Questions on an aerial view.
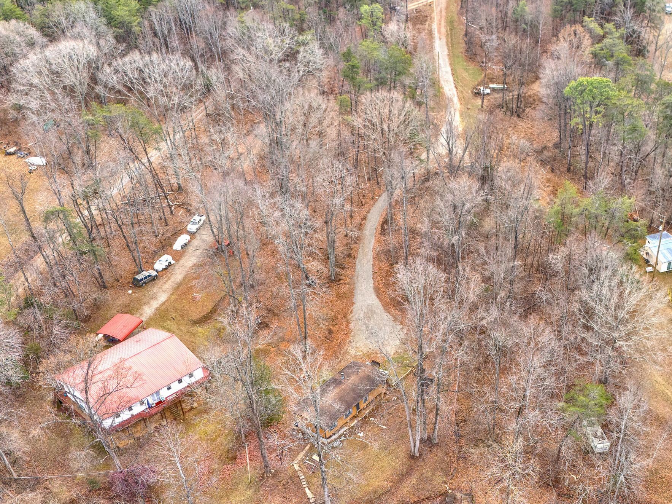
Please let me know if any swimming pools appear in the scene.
No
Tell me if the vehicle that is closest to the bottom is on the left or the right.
right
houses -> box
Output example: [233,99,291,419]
[643,235,672,274]
[295,364,387,448]
[50,326,217,457]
